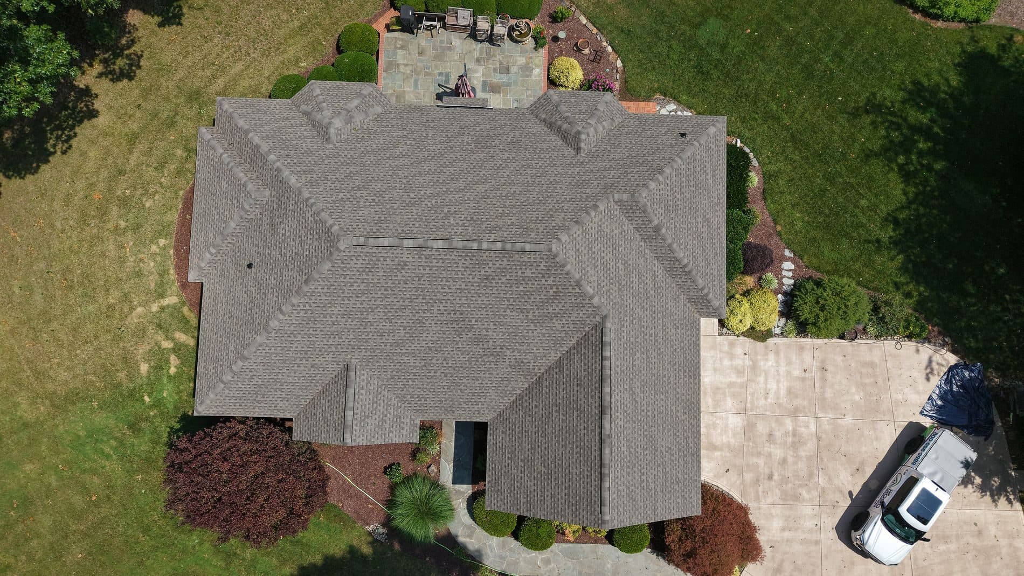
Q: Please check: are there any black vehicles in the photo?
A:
No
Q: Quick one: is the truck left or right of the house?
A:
on the right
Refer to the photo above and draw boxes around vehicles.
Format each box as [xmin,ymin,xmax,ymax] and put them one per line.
[853,418,979,569]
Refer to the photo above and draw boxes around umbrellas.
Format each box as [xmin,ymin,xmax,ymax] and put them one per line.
[459,64,485,98]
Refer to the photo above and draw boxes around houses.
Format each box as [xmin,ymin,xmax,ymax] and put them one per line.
[187,80,728,530]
